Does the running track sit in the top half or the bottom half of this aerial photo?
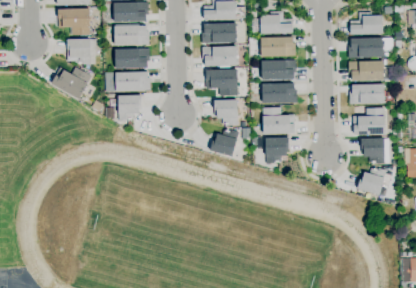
bottom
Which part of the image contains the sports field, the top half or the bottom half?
bottom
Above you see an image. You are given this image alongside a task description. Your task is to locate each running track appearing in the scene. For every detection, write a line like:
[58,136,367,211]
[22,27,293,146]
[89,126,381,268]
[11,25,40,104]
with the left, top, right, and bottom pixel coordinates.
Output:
[17,144,390,288]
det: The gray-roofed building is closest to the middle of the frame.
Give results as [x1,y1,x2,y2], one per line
[210,130,238,154]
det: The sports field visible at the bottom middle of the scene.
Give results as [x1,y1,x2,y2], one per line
[38,162,372,288]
